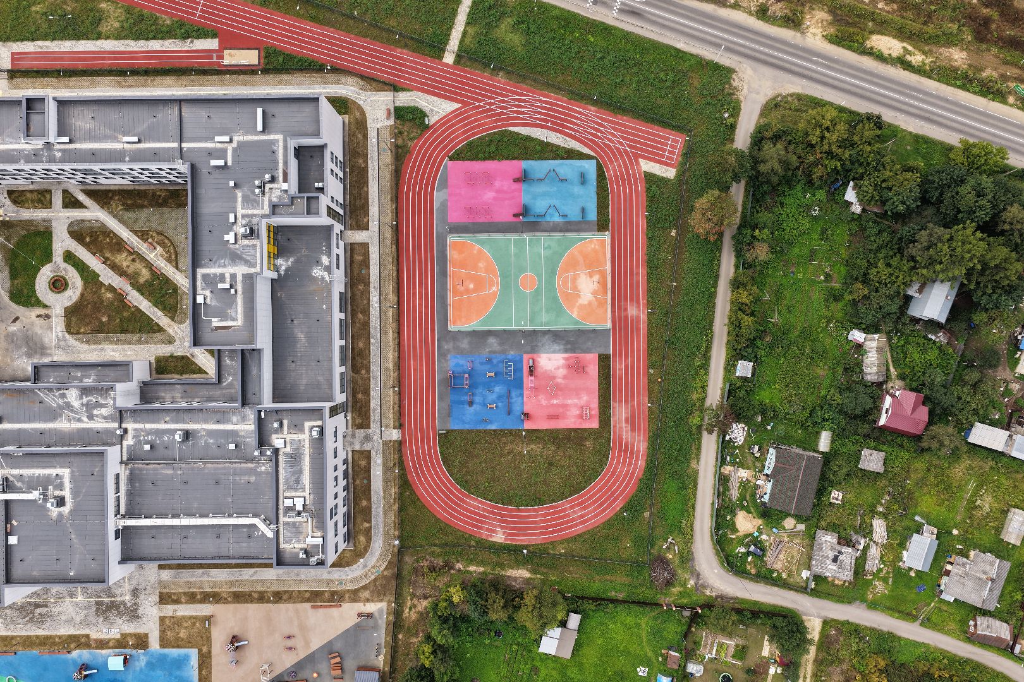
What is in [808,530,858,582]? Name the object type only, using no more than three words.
house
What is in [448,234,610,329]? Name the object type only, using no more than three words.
basketball court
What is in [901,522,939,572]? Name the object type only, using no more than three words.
house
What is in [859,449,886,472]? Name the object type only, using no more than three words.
shed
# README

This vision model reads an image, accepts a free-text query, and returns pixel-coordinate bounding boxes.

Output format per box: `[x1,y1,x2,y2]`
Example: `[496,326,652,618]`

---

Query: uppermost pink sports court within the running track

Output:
[448,160,522,222]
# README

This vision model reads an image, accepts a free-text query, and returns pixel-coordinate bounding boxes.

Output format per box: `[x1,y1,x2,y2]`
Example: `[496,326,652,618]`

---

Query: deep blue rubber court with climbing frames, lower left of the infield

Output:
[450,354,524,429]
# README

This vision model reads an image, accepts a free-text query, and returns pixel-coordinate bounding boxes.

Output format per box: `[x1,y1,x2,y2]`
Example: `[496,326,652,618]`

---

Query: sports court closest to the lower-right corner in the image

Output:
[524,354,598,428]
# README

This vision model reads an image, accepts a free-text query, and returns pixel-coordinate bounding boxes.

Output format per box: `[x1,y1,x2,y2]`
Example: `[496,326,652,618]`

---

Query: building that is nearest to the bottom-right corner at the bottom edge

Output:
[967,613,1013,648]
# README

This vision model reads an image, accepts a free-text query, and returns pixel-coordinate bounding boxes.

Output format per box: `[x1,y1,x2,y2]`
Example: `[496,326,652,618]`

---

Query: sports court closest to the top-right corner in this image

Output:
[522,160,597,221]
